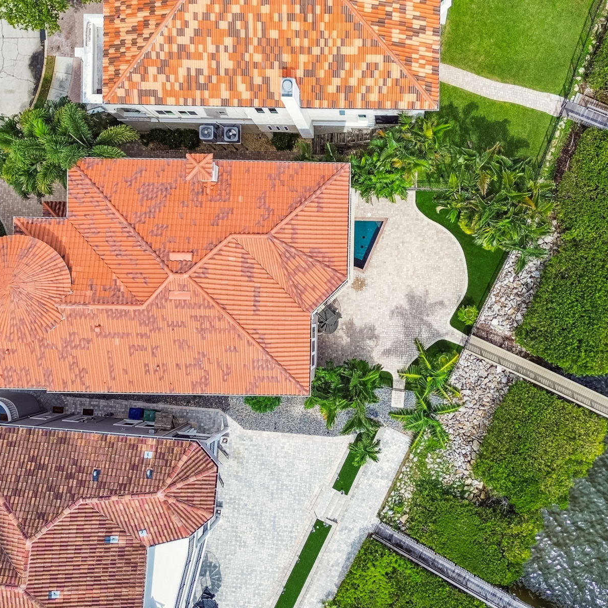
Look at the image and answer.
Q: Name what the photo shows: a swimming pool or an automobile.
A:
swimming pool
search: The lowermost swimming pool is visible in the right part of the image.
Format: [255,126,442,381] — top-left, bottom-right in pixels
[354,217,389,273]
